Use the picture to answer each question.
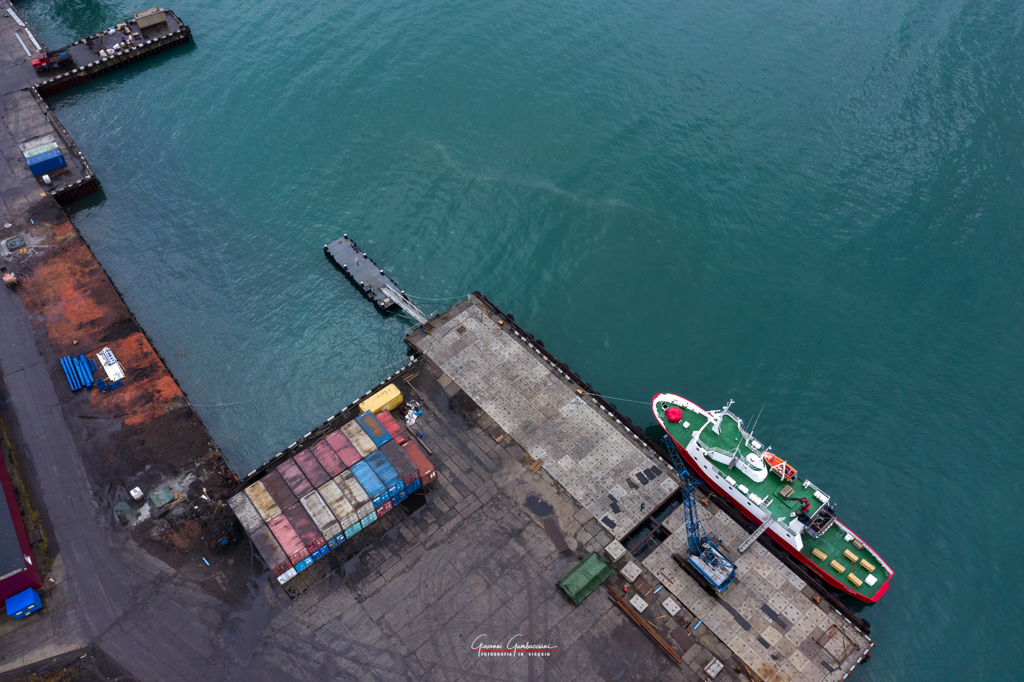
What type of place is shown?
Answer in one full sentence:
This looks like a port.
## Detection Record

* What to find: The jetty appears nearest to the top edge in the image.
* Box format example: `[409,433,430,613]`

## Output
[34,12,189,99]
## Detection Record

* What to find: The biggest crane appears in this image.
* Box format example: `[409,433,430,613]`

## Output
[645,433,737,598]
